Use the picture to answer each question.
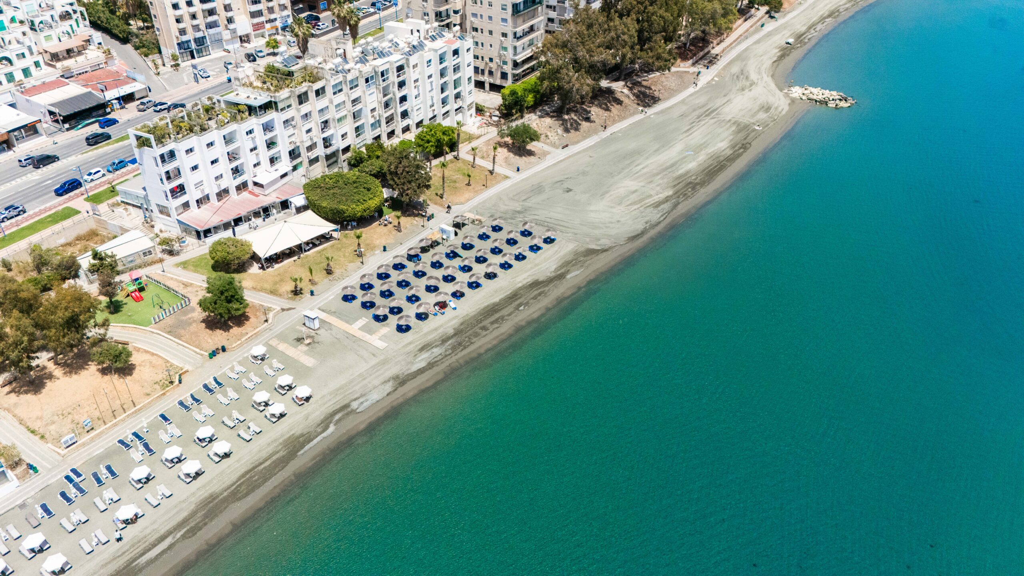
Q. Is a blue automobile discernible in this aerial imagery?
Yes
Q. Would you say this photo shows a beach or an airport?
beach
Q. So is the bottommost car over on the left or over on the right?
left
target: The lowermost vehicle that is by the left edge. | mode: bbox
[0,201,32,221]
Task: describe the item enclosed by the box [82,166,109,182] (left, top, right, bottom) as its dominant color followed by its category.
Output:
white car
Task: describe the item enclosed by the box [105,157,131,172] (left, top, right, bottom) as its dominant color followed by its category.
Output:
blue car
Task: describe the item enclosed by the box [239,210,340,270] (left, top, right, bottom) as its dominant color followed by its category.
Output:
white tent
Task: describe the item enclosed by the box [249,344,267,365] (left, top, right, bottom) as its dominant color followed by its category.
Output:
white umbrella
